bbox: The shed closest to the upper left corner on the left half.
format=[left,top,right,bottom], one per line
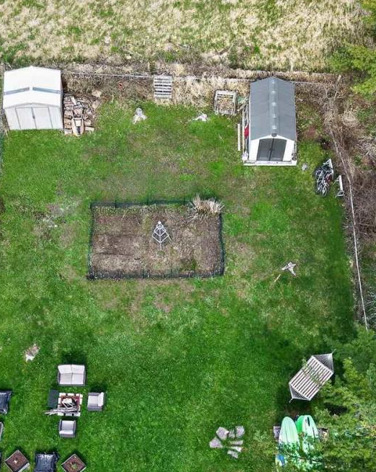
[1,66,65,131]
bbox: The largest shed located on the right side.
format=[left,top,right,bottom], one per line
[244,75,301,166]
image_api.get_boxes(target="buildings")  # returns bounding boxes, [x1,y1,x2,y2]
[1,66,65,131]
[244,75,301,166]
